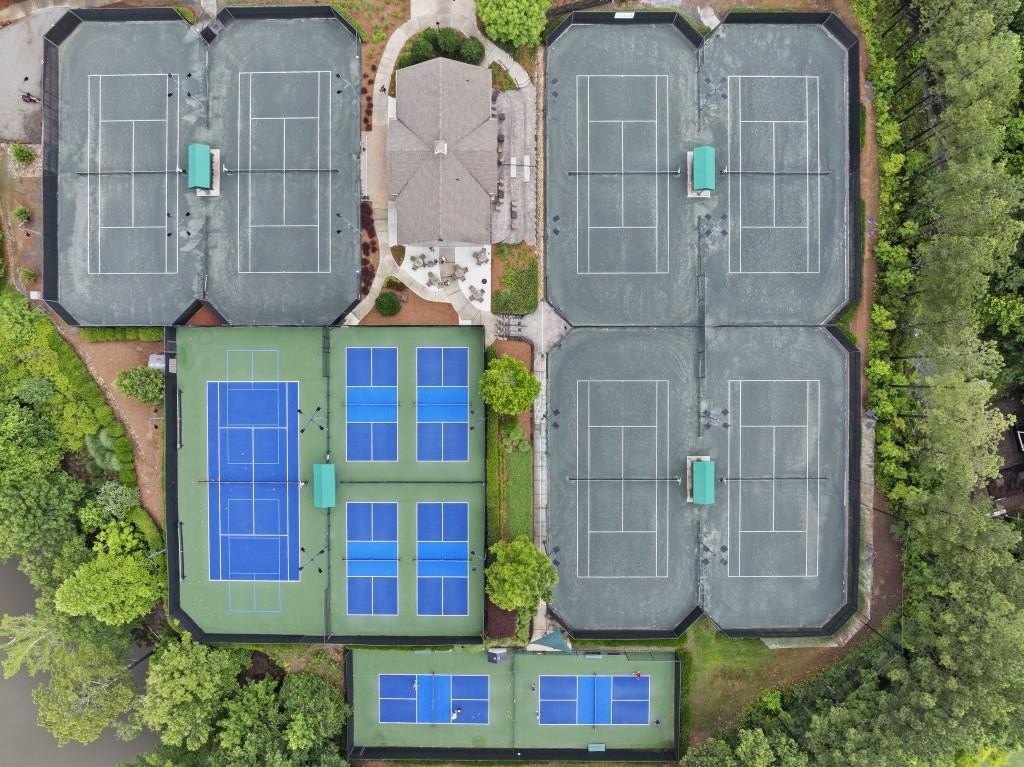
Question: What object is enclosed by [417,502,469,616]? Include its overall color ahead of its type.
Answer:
blue sports court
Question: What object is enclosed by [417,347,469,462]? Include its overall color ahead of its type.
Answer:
blue sports court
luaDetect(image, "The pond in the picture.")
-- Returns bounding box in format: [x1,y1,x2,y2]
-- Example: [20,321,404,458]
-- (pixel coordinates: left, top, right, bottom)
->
[0,551,155,767]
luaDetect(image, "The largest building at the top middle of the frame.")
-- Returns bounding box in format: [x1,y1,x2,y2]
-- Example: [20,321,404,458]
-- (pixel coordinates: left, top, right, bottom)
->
[387,57,497,249]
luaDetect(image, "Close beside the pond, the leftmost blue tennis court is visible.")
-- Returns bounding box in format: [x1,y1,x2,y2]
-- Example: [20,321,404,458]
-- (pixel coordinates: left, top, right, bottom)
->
[206,350,300,612]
